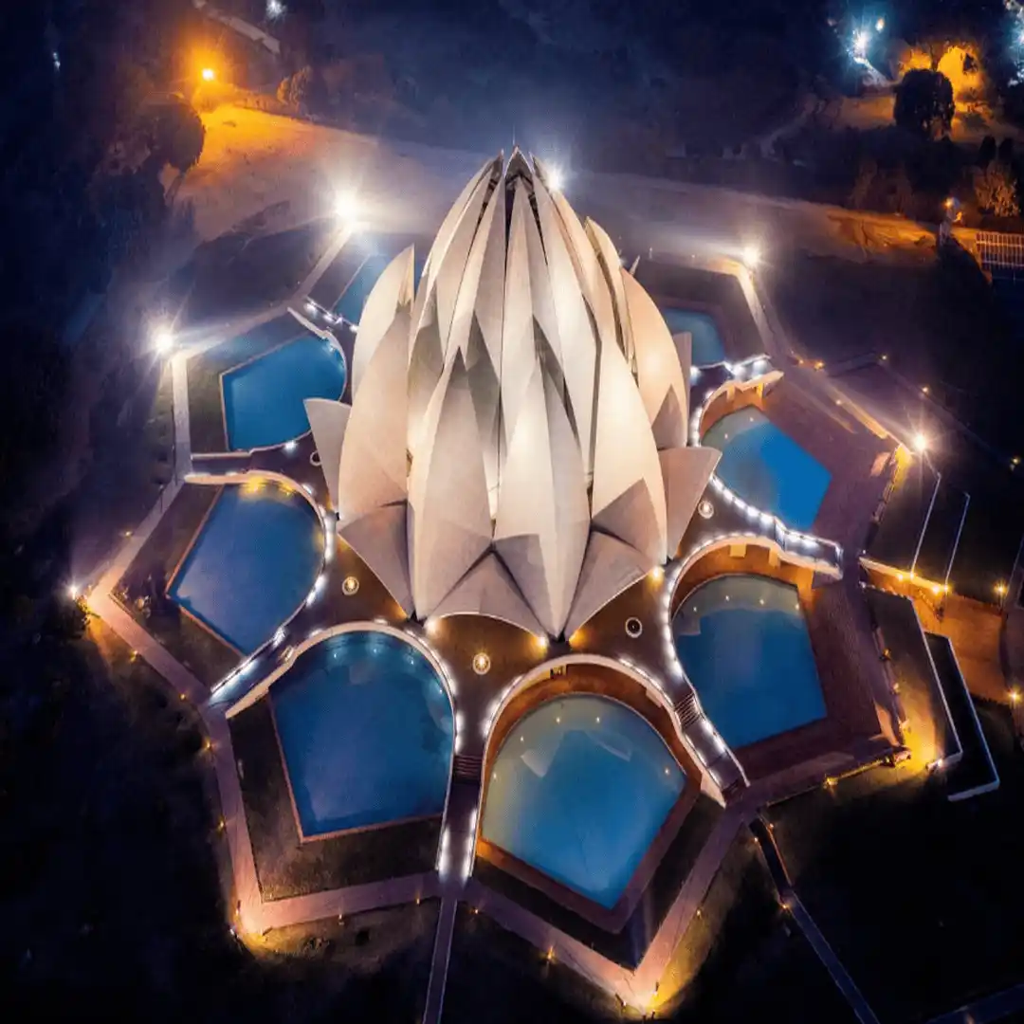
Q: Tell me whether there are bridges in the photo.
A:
Yes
